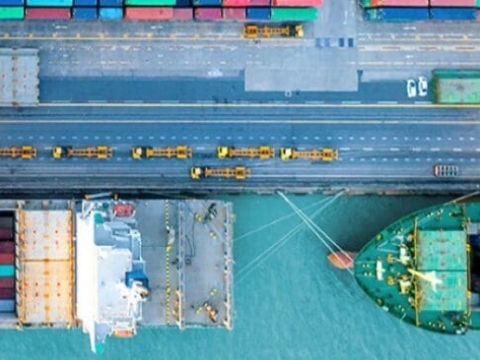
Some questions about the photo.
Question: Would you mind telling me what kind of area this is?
port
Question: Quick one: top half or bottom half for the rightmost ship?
bottom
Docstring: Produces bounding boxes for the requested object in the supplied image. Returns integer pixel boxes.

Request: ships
[328,197,480,336]
[0,195,236,352]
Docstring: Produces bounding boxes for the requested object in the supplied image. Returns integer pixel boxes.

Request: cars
[418,77,428,95]
[407,78,418,97]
